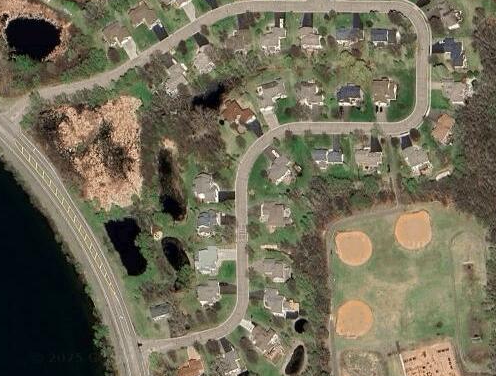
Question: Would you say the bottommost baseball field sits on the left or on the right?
right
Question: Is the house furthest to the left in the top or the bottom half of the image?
top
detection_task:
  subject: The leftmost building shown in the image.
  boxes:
[102,20,134,47]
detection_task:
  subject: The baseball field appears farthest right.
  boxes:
[394,209,432,249]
